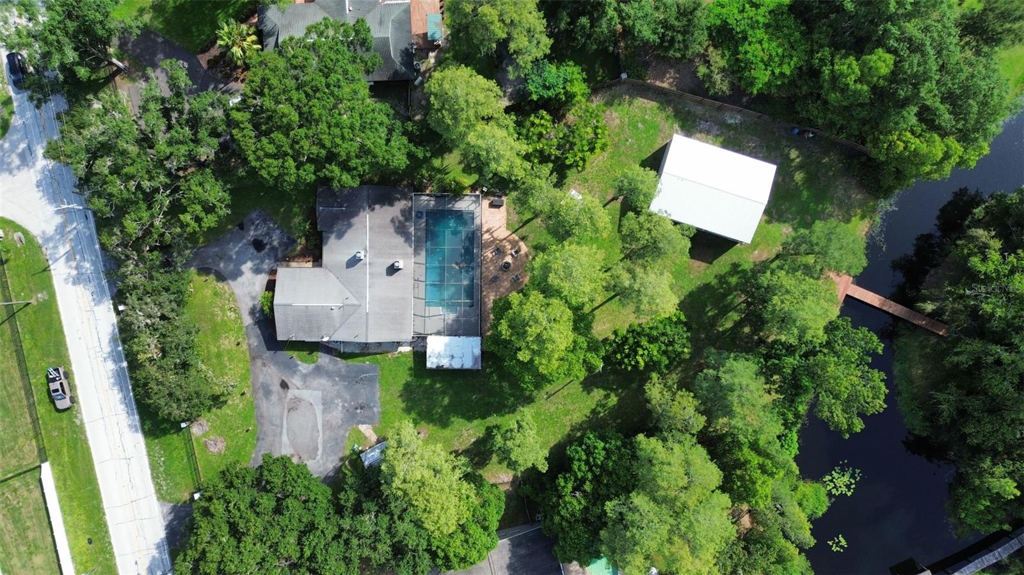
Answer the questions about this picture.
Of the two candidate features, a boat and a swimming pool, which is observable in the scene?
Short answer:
swimming pool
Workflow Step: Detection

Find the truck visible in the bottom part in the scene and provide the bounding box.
[48,365,79,411]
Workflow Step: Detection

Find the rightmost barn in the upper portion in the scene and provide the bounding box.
[646,134,776,245]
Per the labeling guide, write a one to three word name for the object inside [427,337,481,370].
shed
